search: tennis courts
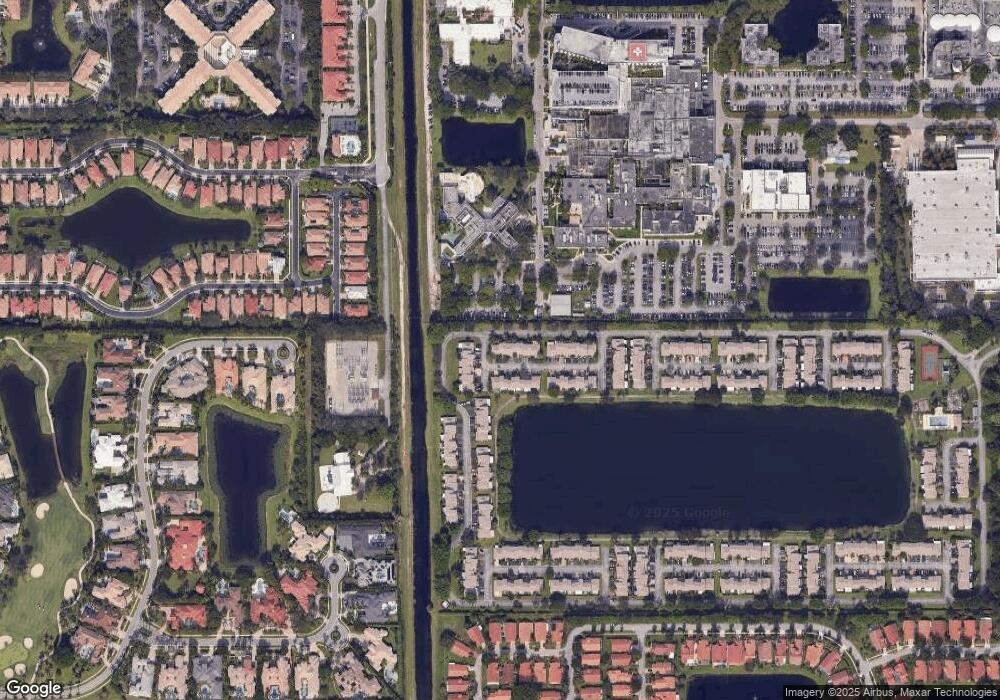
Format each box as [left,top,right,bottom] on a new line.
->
[329,116,357,133]
[922,345,938,381]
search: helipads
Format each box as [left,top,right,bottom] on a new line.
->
[629,37,647,56]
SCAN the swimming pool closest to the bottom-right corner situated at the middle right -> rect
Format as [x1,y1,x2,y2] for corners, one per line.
[923,407,953,430]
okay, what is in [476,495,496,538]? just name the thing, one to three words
house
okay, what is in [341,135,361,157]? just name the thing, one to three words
swimming pool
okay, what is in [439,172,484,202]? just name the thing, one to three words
building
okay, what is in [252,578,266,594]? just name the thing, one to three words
swimming pool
